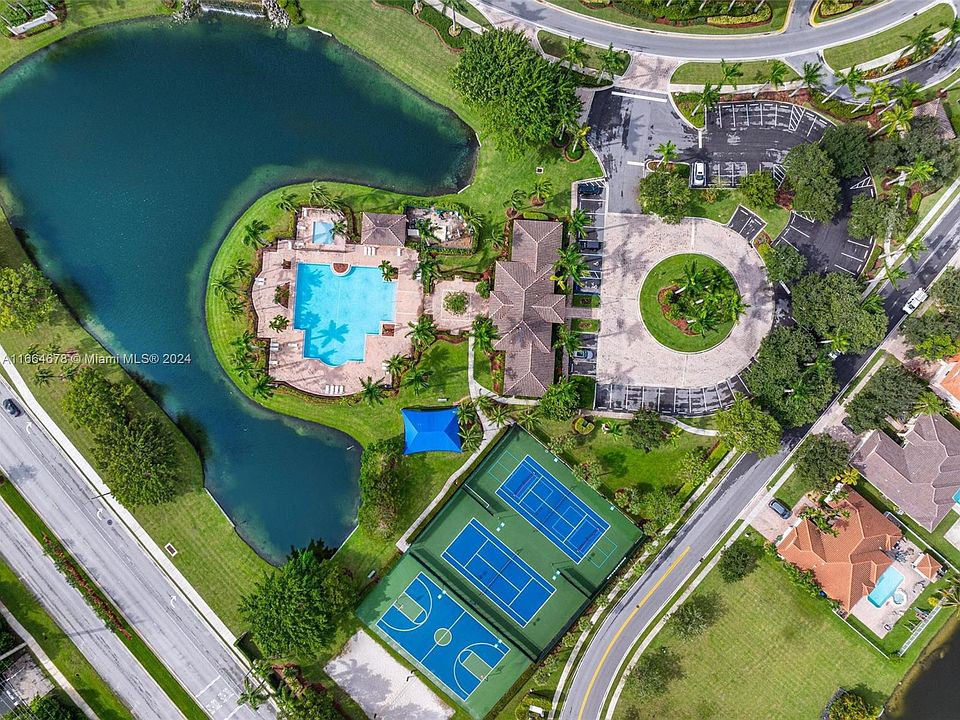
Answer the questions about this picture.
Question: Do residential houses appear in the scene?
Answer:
Yes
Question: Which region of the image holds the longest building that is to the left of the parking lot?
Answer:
center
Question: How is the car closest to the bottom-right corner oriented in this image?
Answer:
at an angle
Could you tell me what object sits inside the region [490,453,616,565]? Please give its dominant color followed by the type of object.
blue tennis court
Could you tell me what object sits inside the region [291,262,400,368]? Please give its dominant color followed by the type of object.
blue swimming pool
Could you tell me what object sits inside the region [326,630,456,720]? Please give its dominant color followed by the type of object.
white sports court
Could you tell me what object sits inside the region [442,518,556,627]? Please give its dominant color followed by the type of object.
blue tennis court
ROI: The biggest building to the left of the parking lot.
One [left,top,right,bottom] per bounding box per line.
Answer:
[489,220,566,397]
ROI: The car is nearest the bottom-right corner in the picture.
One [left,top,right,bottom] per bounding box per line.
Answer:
[771,499,793,519]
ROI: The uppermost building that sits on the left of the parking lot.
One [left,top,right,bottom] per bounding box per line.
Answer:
[361,213,407,248]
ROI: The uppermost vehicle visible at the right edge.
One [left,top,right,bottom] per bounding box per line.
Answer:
[903,288,932,316]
